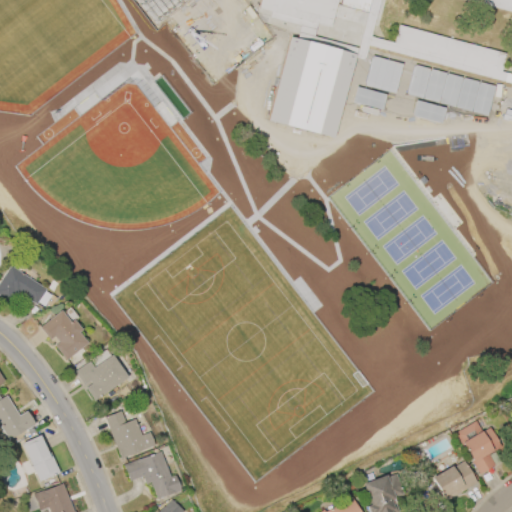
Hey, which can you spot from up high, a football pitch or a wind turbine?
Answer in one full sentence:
Visible in the photo is a football pitch.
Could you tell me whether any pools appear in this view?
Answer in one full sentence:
Yes, a pool appears in the view.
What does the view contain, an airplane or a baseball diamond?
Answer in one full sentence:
I can see a baseball diamond in this picture.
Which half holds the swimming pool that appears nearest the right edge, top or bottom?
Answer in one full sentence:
The swimming pool that appears nearest the right edge sits in the bottom half of the picture.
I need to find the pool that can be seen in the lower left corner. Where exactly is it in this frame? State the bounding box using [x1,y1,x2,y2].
[8,464,28,490]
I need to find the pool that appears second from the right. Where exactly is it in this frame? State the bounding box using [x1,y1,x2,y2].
[379,461,404,474]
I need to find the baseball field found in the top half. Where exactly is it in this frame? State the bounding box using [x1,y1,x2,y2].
[17,84,217,230]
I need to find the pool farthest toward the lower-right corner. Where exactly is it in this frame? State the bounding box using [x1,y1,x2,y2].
[418,430,462,472]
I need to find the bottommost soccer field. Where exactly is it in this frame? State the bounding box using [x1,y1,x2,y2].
[116,206,372,480]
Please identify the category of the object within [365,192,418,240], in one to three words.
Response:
tennis court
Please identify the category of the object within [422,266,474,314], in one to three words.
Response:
tennis court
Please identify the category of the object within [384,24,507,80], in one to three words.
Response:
building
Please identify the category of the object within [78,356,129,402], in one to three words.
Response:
house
